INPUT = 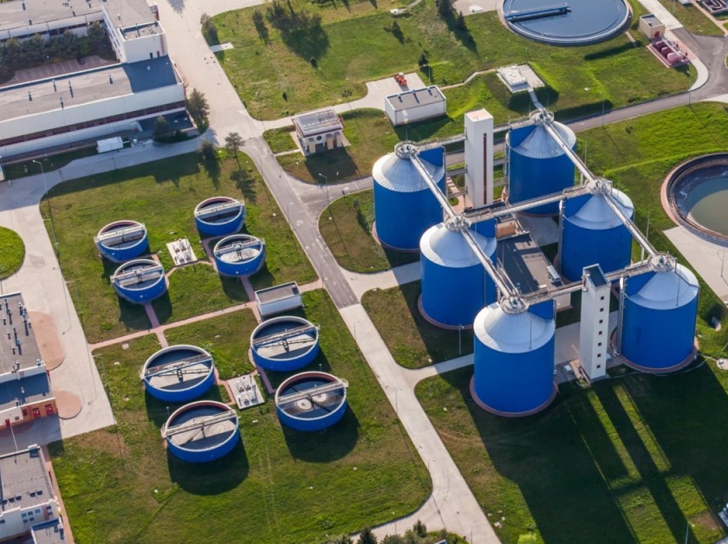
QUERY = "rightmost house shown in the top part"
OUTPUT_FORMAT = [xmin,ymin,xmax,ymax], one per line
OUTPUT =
[639,13,667,39]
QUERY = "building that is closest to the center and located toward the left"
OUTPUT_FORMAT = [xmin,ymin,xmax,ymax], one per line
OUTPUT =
[253,282,304,318]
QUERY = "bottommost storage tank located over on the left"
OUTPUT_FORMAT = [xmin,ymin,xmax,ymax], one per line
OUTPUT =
[158,406,244,469]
